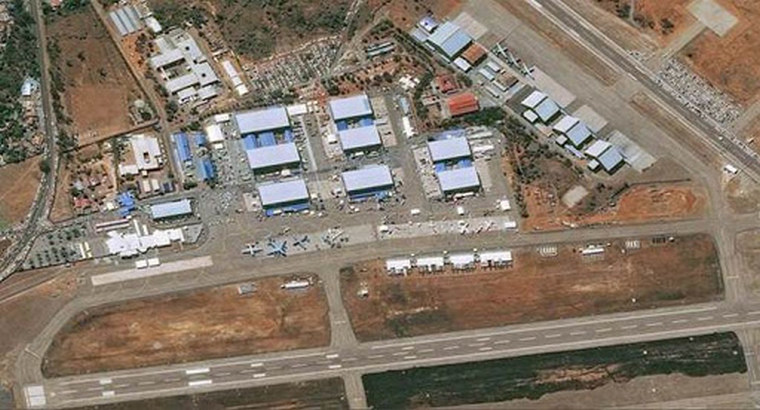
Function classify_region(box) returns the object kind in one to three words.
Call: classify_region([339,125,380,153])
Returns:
building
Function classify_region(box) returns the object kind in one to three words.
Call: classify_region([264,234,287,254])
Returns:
airplane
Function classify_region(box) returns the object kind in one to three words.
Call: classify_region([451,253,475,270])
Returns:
house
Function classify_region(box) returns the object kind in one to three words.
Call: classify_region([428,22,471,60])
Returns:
hangar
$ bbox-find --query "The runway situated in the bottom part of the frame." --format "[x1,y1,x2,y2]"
[22,303,760,410]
